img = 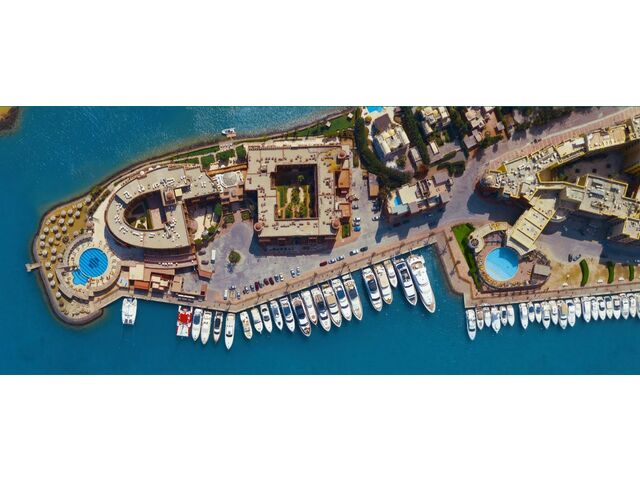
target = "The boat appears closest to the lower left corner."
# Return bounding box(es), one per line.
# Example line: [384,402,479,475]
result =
[122,299,138,325]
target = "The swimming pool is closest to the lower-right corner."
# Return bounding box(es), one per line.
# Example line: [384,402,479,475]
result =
[484,246,519,281]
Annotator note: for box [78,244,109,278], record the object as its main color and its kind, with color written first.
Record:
blue swimming pool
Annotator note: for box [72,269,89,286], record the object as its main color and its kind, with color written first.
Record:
blue swimming pool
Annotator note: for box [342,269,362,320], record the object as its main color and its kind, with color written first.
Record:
white boat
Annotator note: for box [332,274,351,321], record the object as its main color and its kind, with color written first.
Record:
white boat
